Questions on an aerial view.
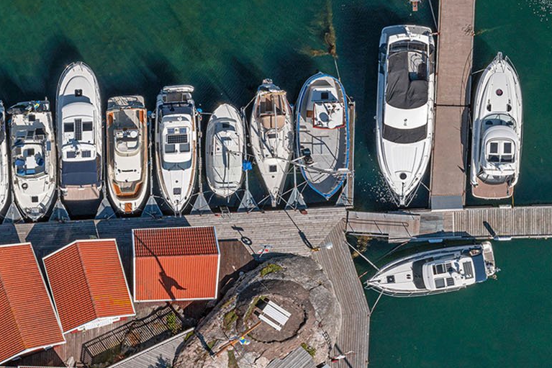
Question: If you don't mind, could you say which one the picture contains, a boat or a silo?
boat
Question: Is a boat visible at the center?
Yes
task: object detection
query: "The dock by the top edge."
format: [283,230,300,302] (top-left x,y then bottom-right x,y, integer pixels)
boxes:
[434,0,473,105]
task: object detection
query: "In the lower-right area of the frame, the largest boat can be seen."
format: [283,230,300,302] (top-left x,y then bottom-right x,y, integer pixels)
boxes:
[351,239,499,318]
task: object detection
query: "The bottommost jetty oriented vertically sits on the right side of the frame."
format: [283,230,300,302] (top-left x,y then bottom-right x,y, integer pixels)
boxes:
[429,106,469,198]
